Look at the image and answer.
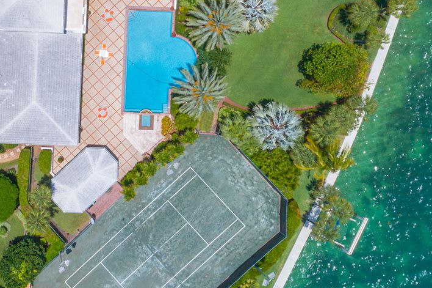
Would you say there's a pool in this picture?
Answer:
Yes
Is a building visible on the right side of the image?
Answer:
No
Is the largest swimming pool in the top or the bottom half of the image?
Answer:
top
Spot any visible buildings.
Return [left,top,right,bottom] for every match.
[0,0,86,144]
[51,146,119,213]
